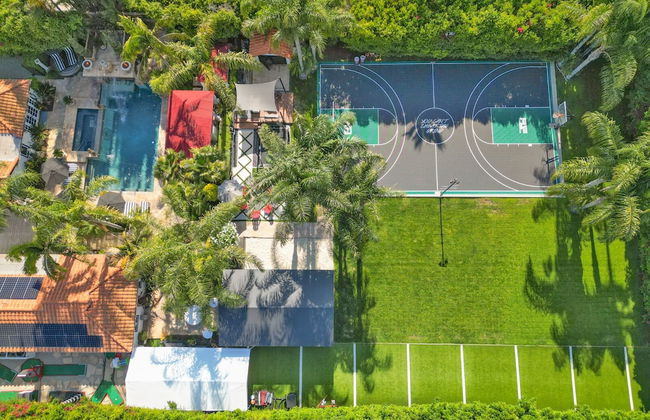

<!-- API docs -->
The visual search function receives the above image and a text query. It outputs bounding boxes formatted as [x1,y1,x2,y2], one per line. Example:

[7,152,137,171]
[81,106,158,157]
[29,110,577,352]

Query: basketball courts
[317,62,567,198]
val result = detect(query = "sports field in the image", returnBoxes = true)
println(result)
[249,346,650,407]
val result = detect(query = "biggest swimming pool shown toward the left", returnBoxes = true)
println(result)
[81,81,164,194]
